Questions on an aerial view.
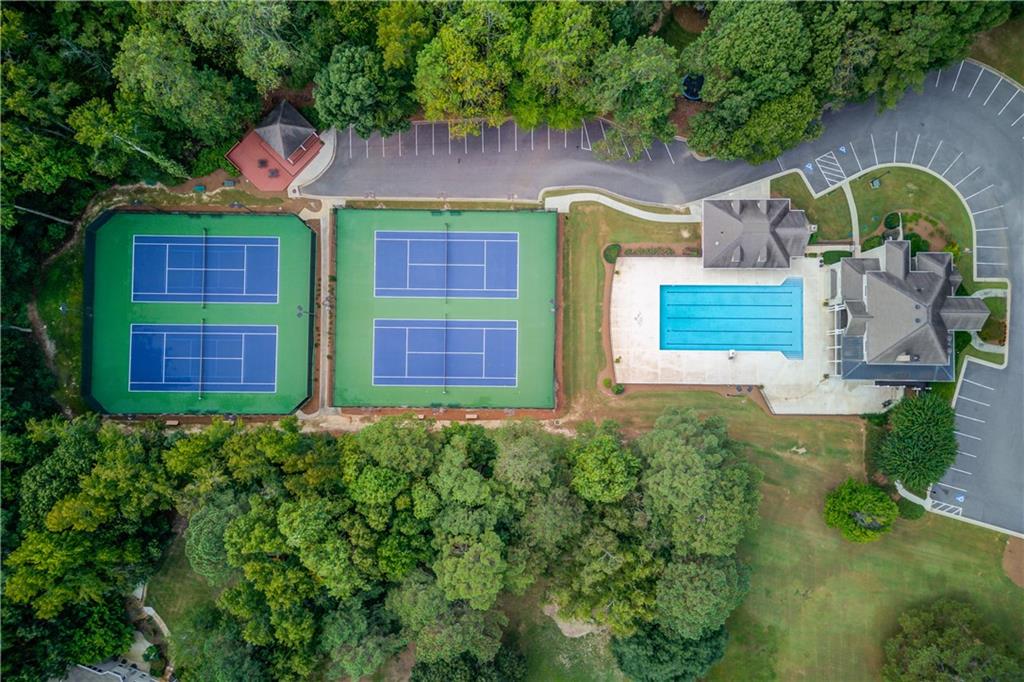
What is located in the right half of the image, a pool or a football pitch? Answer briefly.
pool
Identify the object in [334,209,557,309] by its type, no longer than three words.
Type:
tennis court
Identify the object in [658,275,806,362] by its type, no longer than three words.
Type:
swimming pool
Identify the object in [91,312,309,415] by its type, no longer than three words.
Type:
tennis court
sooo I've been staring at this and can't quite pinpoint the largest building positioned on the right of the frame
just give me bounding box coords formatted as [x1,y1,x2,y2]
[825,240,991,380]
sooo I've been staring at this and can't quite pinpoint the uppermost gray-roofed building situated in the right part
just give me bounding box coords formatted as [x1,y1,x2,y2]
[700,200,817,269]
